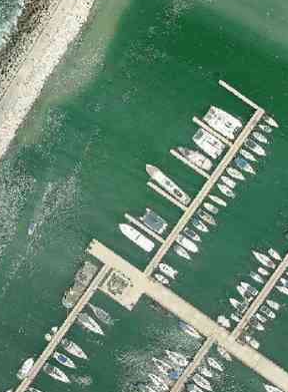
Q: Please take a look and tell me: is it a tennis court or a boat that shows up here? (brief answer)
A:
boat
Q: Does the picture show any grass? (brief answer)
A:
No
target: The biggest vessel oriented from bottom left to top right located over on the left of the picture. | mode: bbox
[63,261,96,308]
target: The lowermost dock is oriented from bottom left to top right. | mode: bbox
[170,339,217,392]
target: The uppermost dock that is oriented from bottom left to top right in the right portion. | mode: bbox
[142,106,266,276]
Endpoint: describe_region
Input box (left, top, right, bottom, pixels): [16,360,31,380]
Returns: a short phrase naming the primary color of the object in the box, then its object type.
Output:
white boat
